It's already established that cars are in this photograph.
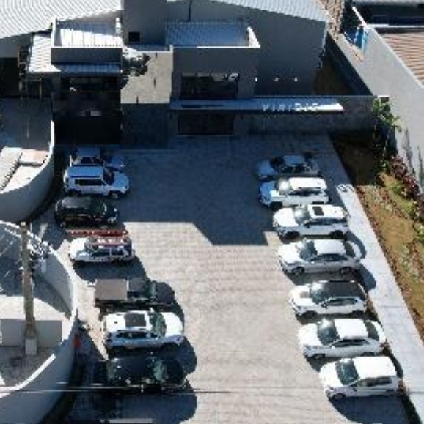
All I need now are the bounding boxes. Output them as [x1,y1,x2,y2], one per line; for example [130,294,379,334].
[258,176,329,209]
[274,203,350,239]
[54,197,121,232]
[280,242,362,276]
[71,144,125,171]
[66,165,127,198]
[102,309,186,354]
[99,351,187,397]
[287,276,374,318]
[295,319,390,360]
[92,271,180,312]
[254,152,322,178]
[317,357,407,400]
[67,229,138,265]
